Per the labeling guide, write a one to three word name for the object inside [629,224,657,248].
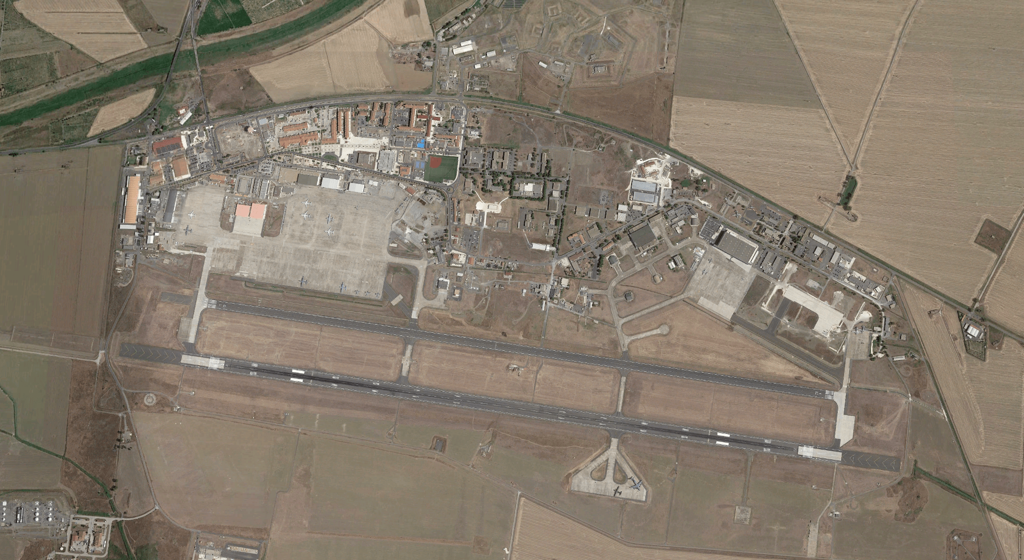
hangar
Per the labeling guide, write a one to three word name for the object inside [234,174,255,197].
building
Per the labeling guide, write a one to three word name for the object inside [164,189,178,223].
hangar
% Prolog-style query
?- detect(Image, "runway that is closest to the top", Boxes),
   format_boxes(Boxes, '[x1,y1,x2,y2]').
[208,299,835,400]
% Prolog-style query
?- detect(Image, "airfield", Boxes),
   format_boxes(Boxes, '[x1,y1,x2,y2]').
[118,184,904,503]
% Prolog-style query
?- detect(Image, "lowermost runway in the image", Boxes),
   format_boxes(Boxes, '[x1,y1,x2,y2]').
[179,351,844,464]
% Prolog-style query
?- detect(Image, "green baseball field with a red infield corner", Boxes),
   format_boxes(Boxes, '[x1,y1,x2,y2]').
[424,155,458,182]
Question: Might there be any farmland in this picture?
Yes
